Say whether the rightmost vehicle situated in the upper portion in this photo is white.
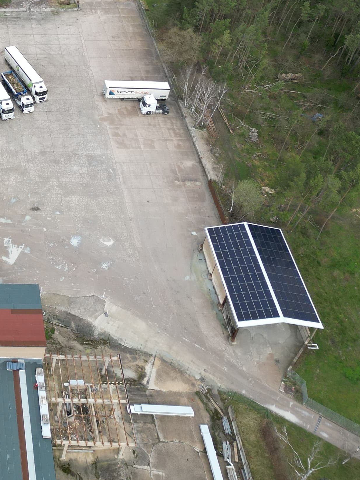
Yes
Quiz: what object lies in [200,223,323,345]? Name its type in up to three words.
shed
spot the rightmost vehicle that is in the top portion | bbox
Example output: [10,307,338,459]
[140,94,171,114]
